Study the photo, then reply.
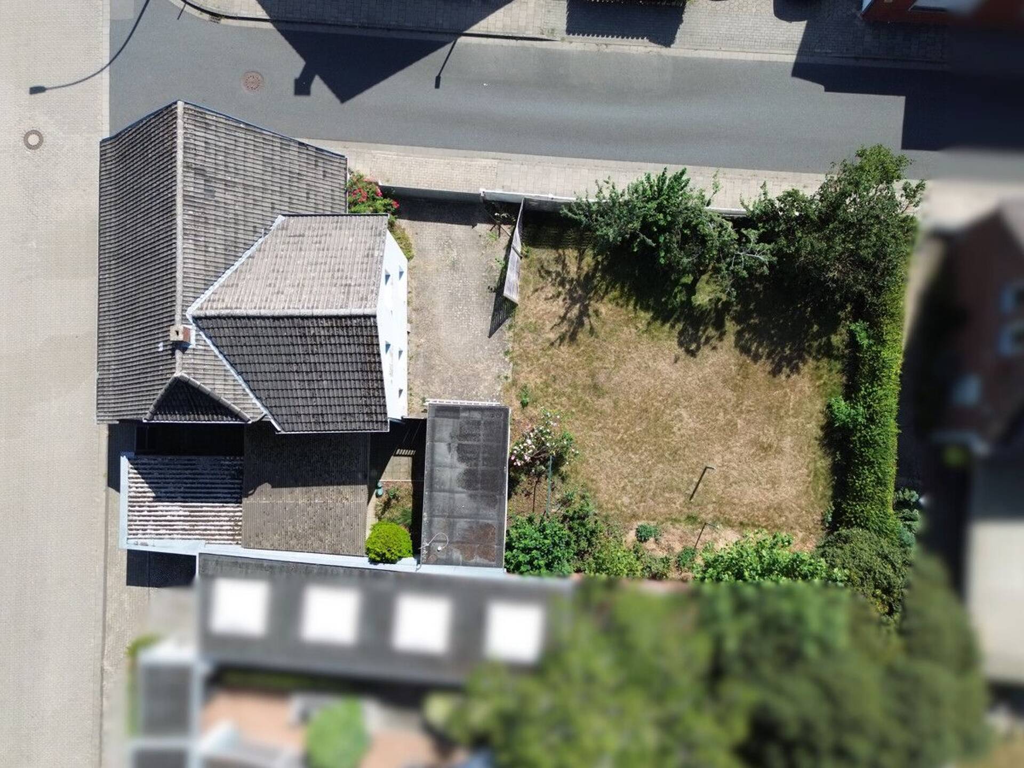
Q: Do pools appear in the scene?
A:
No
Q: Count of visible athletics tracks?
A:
0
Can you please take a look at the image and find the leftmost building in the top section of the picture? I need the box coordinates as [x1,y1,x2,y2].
[94,99,408,434]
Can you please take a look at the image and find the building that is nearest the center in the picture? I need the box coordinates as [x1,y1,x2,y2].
[421,396,510,568]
